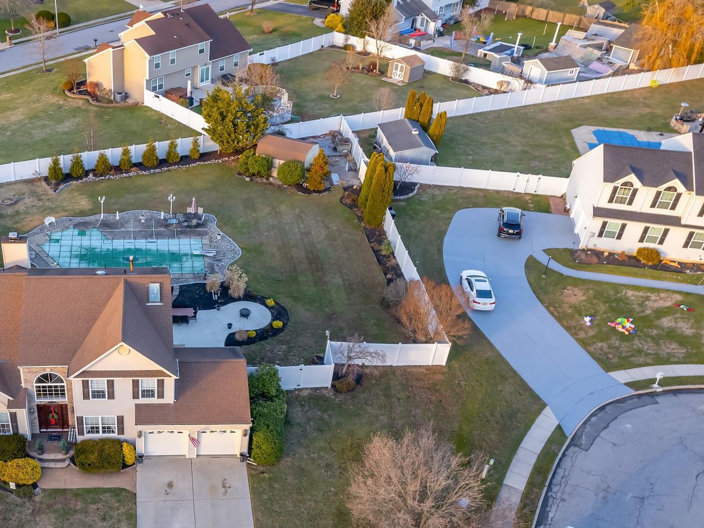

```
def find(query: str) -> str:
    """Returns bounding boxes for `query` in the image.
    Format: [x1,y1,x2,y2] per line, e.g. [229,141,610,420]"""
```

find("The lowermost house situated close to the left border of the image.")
[0,230,254,464]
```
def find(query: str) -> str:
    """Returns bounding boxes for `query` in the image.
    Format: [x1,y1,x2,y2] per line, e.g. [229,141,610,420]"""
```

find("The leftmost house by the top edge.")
[72,2,257,103]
